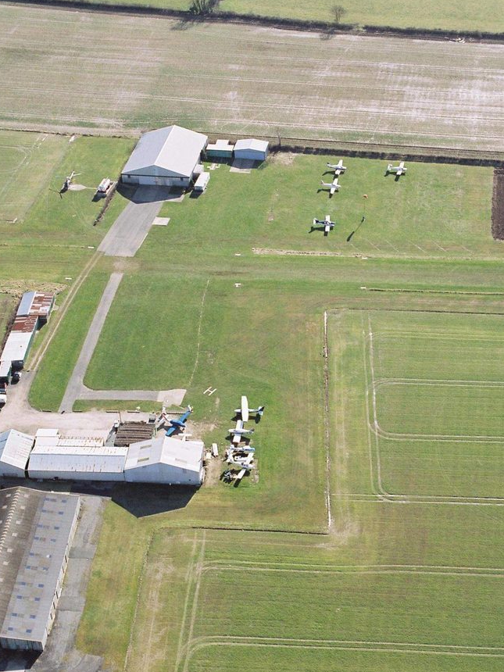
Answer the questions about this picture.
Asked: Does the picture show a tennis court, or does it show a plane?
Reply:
plane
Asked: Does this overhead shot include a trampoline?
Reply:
No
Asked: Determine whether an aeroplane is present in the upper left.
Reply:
No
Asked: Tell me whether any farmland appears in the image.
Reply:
Yes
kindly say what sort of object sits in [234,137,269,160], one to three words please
hangar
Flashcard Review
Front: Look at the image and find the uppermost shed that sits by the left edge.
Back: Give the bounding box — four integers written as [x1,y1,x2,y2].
[13,290,54,322]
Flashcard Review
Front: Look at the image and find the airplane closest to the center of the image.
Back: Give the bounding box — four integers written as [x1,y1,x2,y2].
[236,395,265,421]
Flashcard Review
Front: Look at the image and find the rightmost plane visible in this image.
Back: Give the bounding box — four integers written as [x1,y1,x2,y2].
[387,160,406,174]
